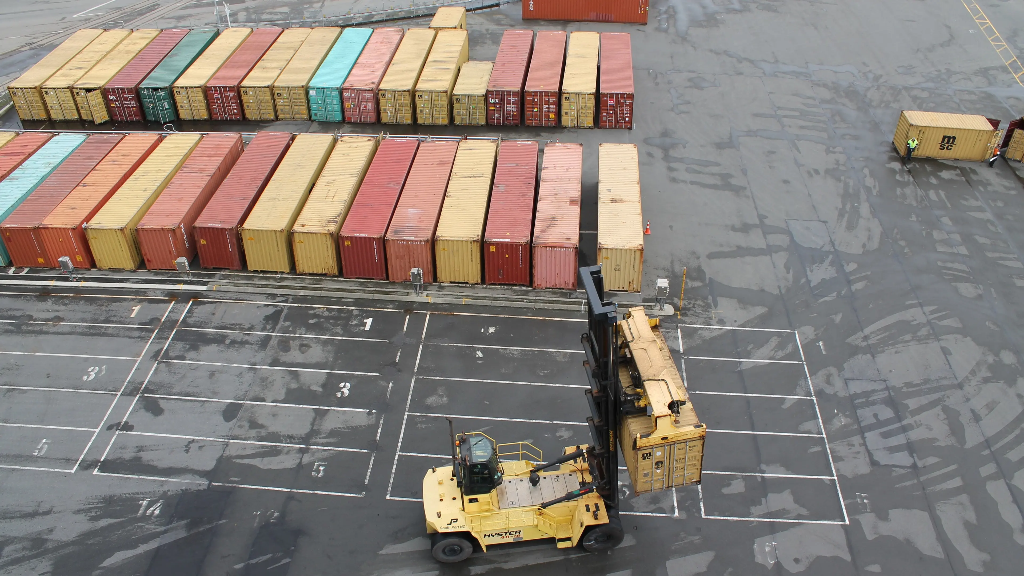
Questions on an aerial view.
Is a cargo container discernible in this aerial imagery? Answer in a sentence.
Yes, the picture does show a cargo container.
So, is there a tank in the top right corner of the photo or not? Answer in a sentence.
No, no tank can be made out in the top right corner of the photo.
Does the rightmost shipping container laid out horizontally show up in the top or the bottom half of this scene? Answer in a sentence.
The rightmost shipping container laid out horizontally is in the top half of the image.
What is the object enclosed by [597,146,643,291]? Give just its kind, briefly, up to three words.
shipping container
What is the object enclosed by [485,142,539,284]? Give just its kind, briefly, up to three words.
shipping container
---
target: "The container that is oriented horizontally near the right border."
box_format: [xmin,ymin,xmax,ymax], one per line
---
[898,110,1002,162]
